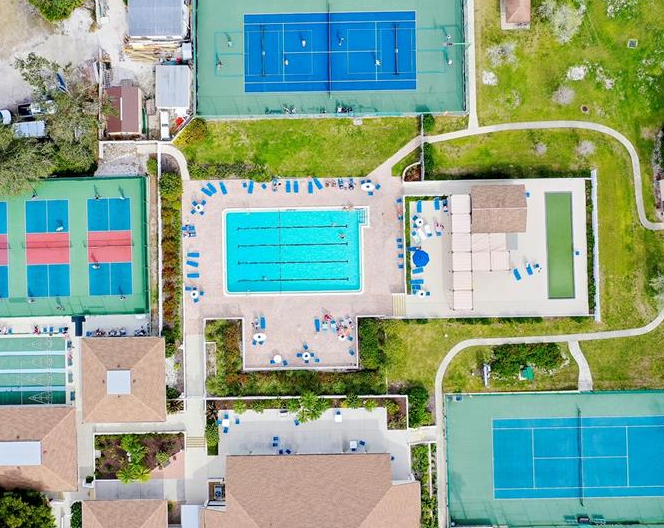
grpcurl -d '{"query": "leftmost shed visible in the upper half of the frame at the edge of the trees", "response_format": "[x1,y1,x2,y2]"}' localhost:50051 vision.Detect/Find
[106,87,142,136]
